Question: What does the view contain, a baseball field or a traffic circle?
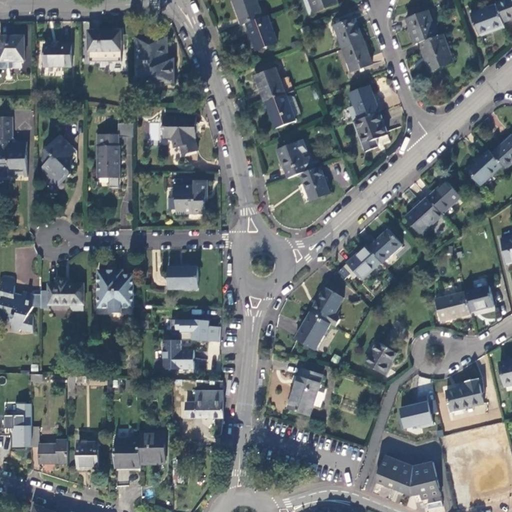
traffic circle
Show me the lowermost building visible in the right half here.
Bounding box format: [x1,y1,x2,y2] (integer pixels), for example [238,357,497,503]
[366,450,446,512]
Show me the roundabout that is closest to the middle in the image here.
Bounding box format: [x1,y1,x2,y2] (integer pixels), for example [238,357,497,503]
[222,206,316,328]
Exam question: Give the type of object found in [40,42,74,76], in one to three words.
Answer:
house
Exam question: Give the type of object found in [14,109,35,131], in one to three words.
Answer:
shed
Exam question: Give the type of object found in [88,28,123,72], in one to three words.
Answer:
house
